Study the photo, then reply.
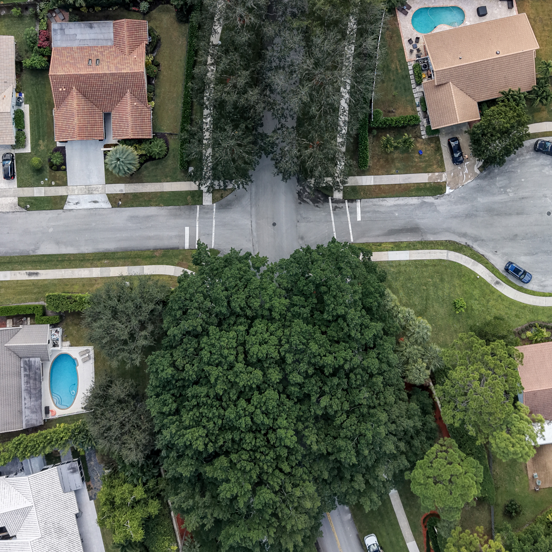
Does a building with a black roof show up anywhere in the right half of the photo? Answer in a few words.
No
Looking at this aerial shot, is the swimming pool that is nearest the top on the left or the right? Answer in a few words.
right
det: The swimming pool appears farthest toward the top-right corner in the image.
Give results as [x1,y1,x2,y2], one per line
[410,4,467,34]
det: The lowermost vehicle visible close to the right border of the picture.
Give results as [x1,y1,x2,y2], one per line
[501,260,534,285]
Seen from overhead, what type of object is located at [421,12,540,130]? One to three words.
house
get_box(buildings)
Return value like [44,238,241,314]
[421,12,540,130]
[49,19,153,141]
[0,451,90,552]
[512,340,552,450]
[0,323,55,432]
[0,36,20,144]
